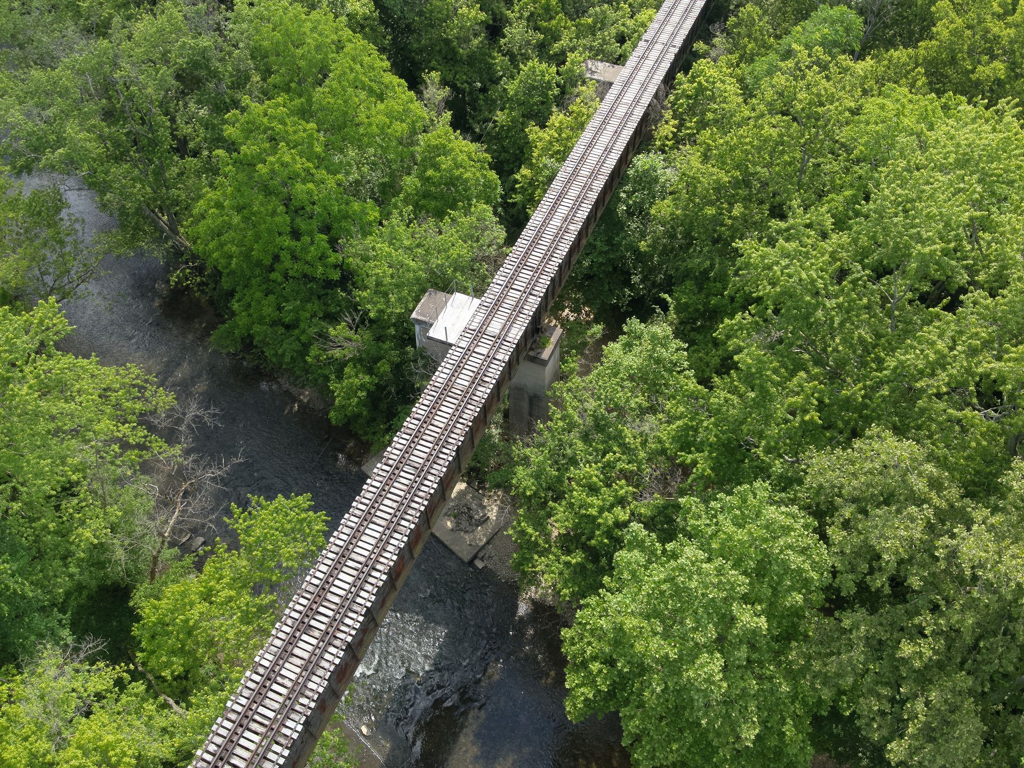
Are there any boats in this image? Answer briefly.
No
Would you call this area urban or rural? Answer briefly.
rural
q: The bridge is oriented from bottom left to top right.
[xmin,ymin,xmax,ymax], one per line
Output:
[189,0,715,768]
